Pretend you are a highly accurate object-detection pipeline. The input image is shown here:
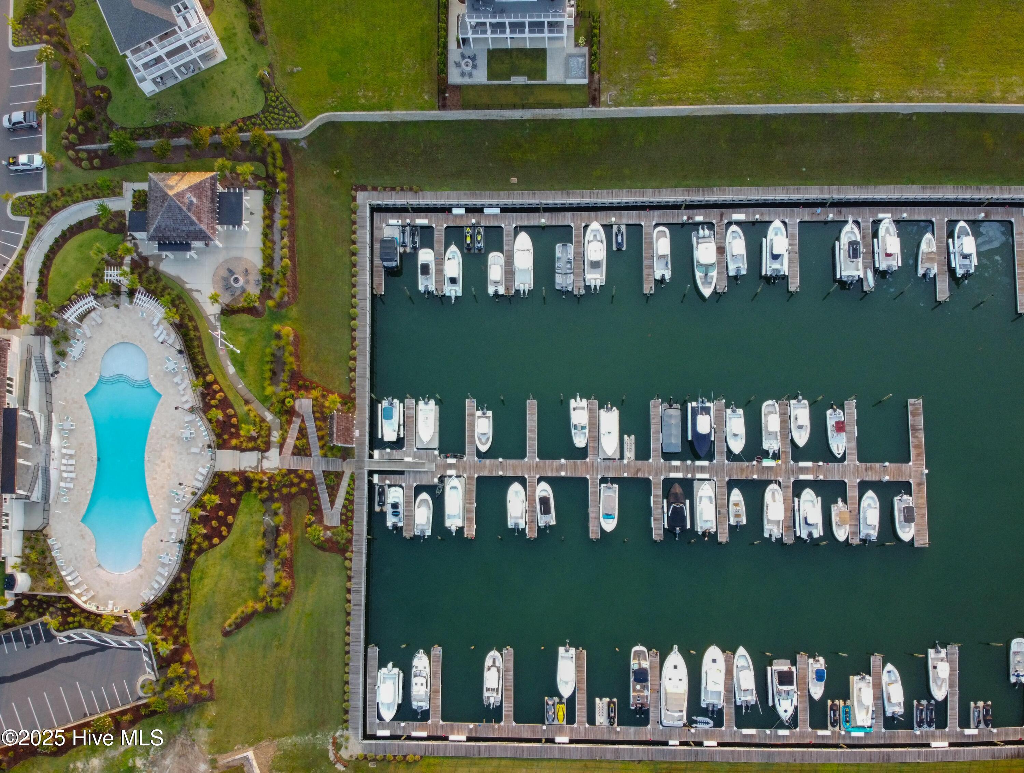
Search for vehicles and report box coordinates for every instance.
[1,152,44,171]
[2,110,37,130]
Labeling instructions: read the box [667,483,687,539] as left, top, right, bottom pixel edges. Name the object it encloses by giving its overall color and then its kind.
black boat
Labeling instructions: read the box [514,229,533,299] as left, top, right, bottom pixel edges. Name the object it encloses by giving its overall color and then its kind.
white boat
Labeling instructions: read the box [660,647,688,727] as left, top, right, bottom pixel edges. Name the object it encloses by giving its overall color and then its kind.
white boat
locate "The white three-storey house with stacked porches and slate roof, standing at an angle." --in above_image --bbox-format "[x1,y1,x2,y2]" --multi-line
[94,0,230,97]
